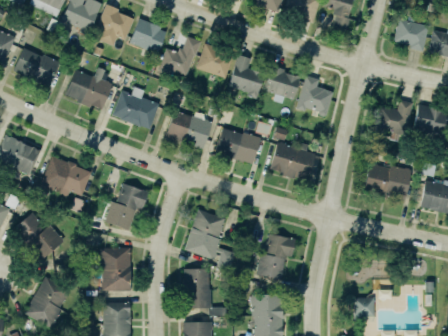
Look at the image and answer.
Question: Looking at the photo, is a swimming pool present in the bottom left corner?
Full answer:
No, I can find no swimming pool in the bottom left corner.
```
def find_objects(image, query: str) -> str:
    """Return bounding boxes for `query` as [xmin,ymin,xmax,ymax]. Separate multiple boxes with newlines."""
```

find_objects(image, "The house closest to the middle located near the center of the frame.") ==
[218,125,262,164]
